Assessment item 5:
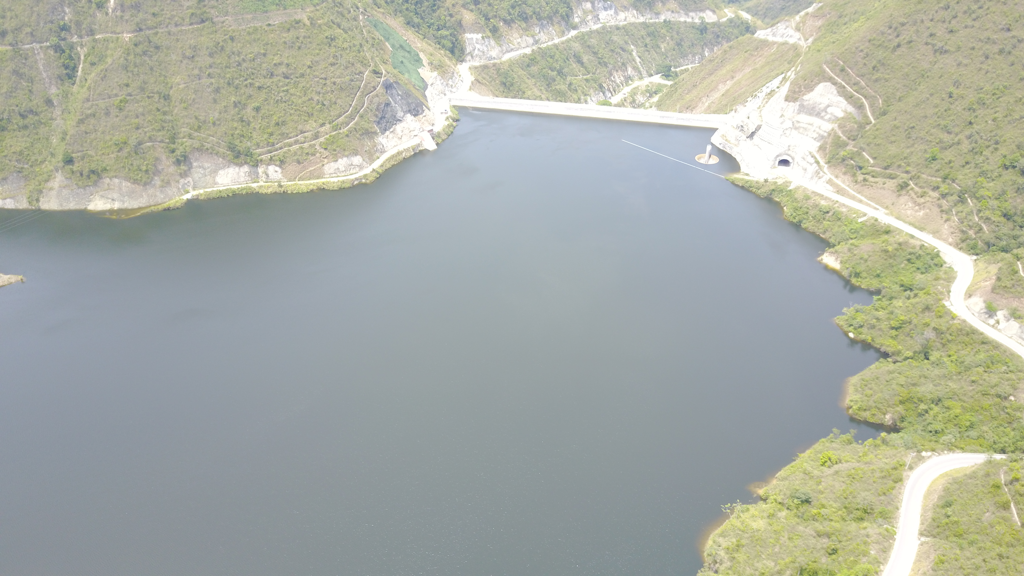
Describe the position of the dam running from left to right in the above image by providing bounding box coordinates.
[461,97,730,129]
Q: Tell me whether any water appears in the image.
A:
Yes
